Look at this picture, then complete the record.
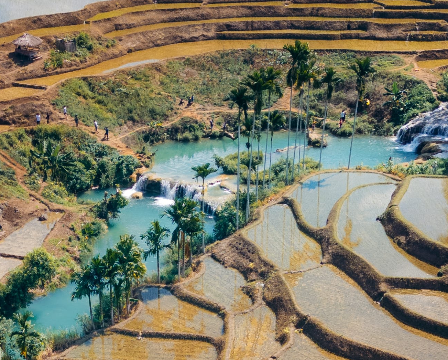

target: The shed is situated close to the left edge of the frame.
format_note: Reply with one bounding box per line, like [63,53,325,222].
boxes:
[1,30,50,61]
